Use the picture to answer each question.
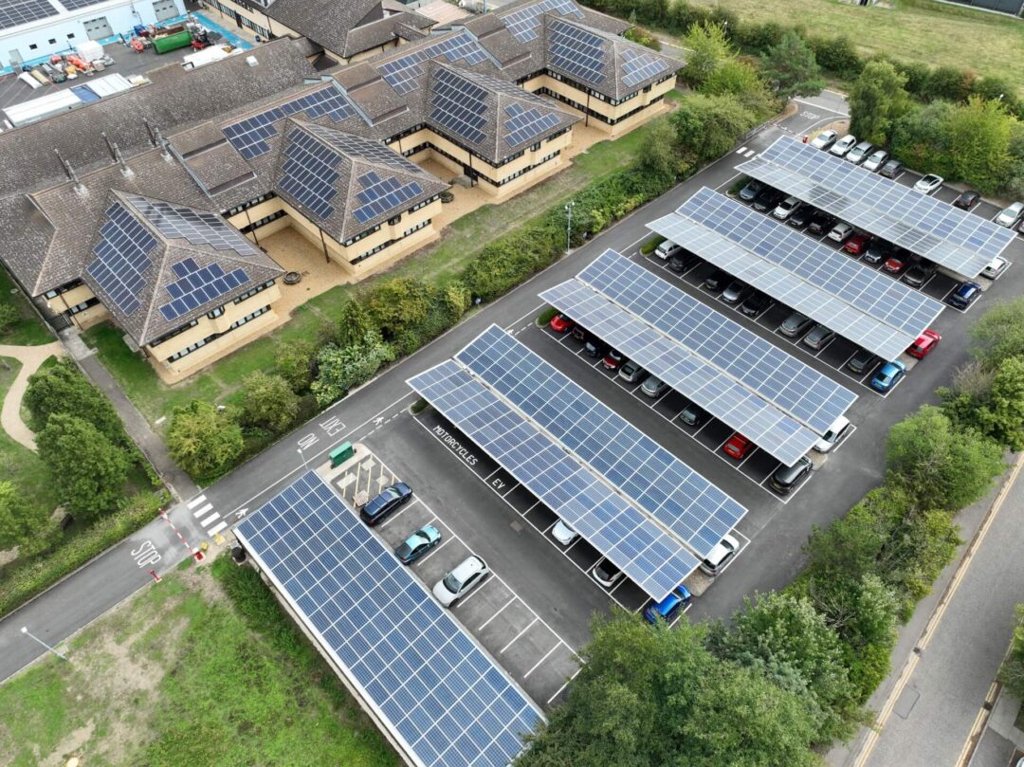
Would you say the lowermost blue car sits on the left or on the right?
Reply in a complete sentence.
You can find the lowermost blue car on the right side of the picture.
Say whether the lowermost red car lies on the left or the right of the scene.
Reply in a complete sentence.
It is on the right.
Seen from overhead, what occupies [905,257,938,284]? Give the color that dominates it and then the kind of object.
black car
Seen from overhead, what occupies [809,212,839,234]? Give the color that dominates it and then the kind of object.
black car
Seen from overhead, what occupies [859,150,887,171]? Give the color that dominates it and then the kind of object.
white car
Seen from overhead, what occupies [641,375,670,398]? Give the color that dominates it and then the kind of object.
gray car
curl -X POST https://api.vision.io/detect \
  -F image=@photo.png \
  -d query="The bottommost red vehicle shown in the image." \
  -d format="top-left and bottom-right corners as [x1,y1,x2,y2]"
[724,432,756,460]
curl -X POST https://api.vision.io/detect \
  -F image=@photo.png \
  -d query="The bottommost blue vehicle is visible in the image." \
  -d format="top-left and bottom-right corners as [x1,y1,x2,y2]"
[643,584,692,631]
